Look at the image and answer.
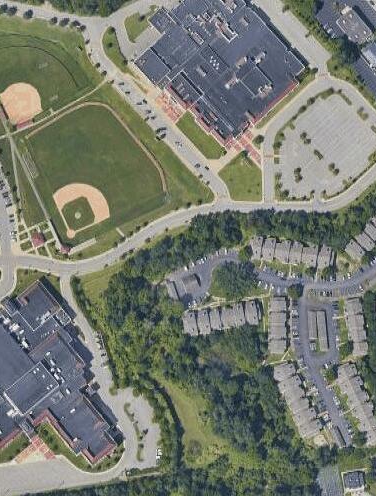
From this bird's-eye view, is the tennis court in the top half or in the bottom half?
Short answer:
bottom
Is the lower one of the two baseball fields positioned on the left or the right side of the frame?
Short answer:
left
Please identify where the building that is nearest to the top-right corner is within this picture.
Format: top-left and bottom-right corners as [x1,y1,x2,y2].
[337,6,373,43]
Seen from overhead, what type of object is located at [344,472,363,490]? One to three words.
building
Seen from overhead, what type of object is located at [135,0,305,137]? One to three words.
building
